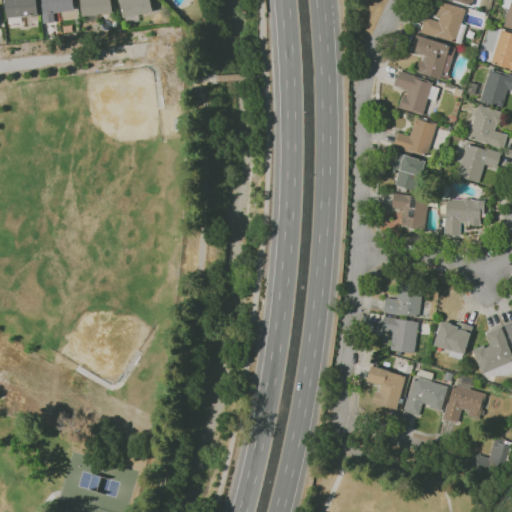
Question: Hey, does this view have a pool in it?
Yes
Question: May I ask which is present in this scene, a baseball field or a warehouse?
baseball field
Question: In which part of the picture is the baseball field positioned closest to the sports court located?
left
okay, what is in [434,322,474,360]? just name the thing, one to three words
house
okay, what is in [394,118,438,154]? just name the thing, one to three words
house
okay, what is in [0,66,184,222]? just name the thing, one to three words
baseball field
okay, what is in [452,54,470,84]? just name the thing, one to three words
swimming pool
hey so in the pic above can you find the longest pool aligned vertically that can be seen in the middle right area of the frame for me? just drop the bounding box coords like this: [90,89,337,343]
[426,203,439,233]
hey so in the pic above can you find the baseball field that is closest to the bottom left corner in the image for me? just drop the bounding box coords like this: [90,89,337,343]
[0,222,182,390]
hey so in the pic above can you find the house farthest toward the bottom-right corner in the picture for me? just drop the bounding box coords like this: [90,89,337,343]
[478,440,512,469]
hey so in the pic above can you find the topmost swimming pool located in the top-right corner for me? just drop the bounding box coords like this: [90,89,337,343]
[466,10,488,30]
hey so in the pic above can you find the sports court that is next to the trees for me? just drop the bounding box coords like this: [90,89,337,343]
[58,452,138,512]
